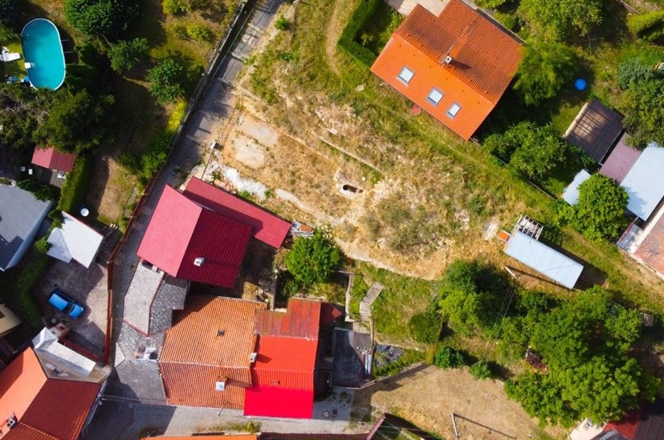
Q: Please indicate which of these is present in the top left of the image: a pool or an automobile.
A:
pool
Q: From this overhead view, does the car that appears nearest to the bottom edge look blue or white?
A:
blue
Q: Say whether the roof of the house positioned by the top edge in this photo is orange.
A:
Yes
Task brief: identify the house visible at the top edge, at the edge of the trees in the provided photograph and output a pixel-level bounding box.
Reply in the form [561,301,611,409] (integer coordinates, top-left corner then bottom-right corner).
[370,0,526,142]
